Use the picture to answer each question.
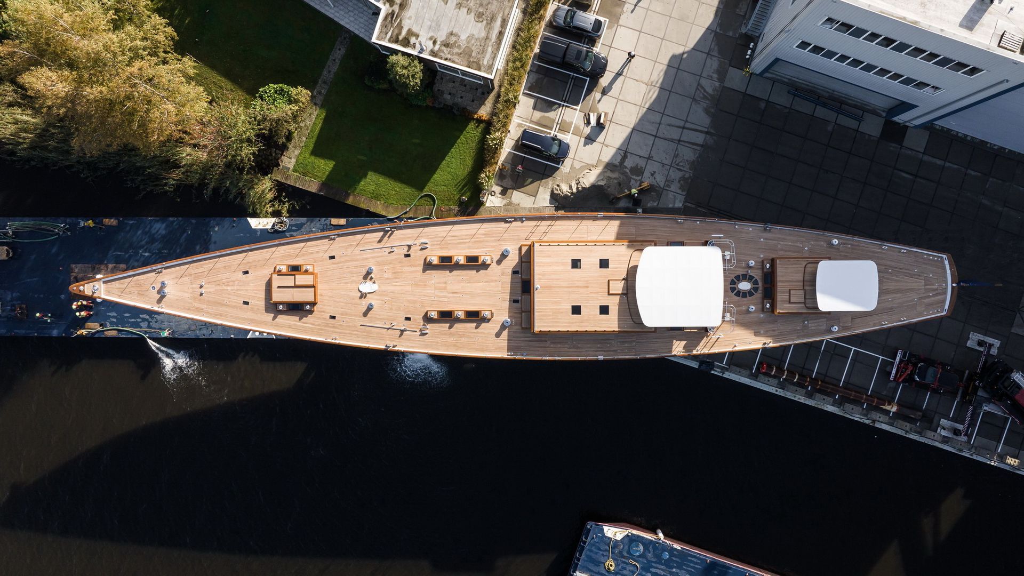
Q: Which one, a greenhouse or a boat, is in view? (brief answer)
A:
boat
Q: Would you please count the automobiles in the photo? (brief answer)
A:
3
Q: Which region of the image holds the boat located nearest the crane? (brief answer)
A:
center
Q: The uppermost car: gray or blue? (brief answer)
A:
gray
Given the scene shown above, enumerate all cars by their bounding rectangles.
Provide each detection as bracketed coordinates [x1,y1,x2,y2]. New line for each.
[550,3,607,38]
[517,127,573,161]
[539,34,611,74]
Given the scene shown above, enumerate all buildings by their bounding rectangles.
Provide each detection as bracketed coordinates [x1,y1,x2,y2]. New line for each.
[749,0,1024,153]
[369,0,528,91]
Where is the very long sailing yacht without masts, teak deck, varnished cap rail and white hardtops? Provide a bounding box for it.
[70,213,1001,360]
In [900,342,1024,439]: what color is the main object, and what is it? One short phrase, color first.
black crane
